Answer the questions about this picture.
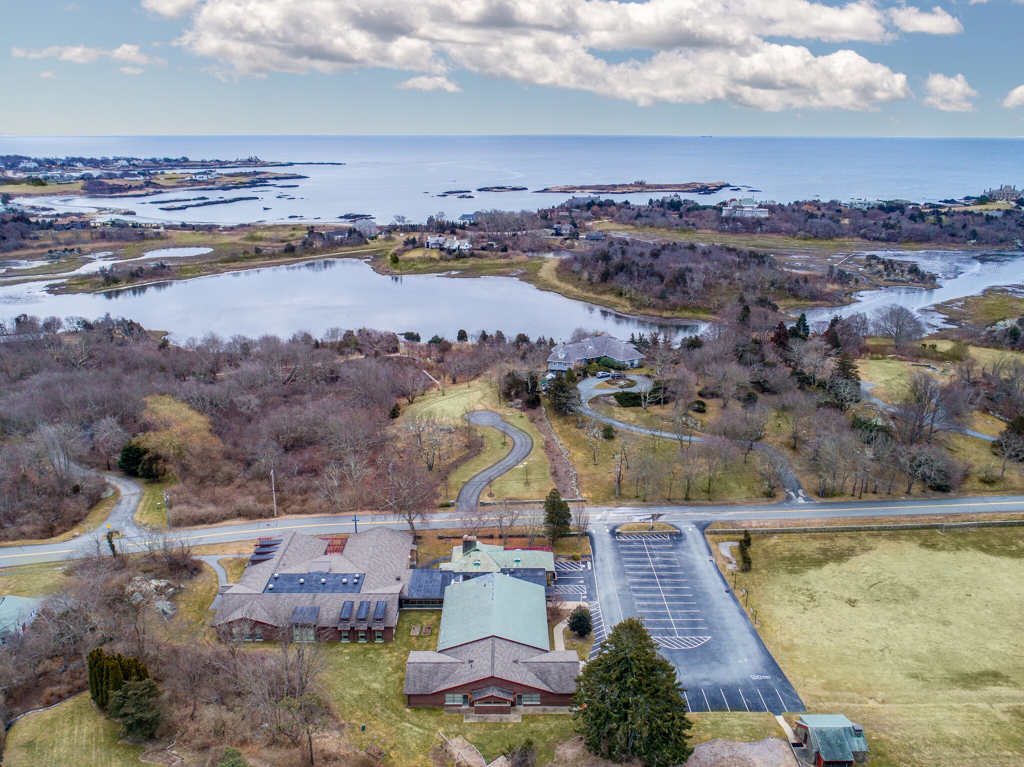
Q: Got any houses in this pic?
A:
Yes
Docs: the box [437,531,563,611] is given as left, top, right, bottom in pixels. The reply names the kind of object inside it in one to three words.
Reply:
building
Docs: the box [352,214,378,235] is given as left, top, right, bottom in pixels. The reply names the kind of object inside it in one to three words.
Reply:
house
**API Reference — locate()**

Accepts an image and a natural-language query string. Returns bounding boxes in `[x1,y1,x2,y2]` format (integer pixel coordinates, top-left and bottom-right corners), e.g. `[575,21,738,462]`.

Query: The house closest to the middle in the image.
[547,333,645,375]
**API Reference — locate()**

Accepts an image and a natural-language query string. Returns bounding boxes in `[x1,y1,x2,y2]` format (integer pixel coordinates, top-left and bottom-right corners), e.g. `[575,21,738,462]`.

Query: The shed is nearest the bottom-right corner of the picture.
[794,715,871,767]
